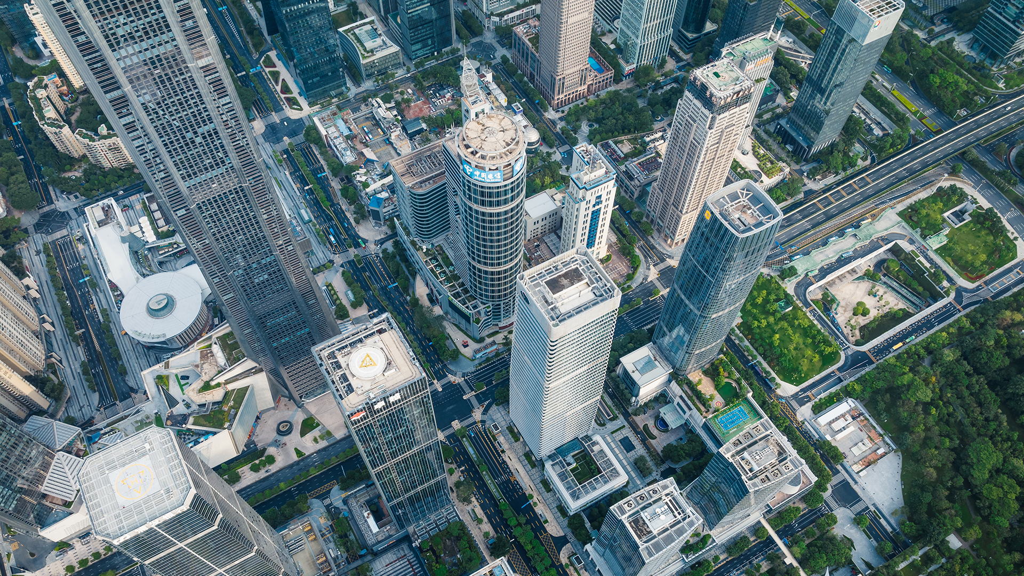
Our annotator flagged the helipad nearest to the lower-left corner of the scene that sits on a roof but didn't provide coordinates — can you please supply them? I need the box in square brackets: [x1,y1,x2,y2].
[104,446,159,507]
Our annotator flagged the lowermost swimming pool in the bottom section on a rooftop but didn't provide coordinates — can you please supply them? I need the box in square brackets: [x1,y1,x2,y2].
[554,438,582,462]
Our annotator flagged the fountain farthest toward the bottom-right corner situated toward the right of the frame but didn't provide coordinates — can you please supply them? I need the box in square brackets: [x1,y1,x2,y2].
[652,413,672,433]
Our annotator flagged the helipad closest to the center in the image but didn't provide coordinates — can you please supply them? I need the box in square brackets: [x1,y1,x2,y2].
[349,346,388,382]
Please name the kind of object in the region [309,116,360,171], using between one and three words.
building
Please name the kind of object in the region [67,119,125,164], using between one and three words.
building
